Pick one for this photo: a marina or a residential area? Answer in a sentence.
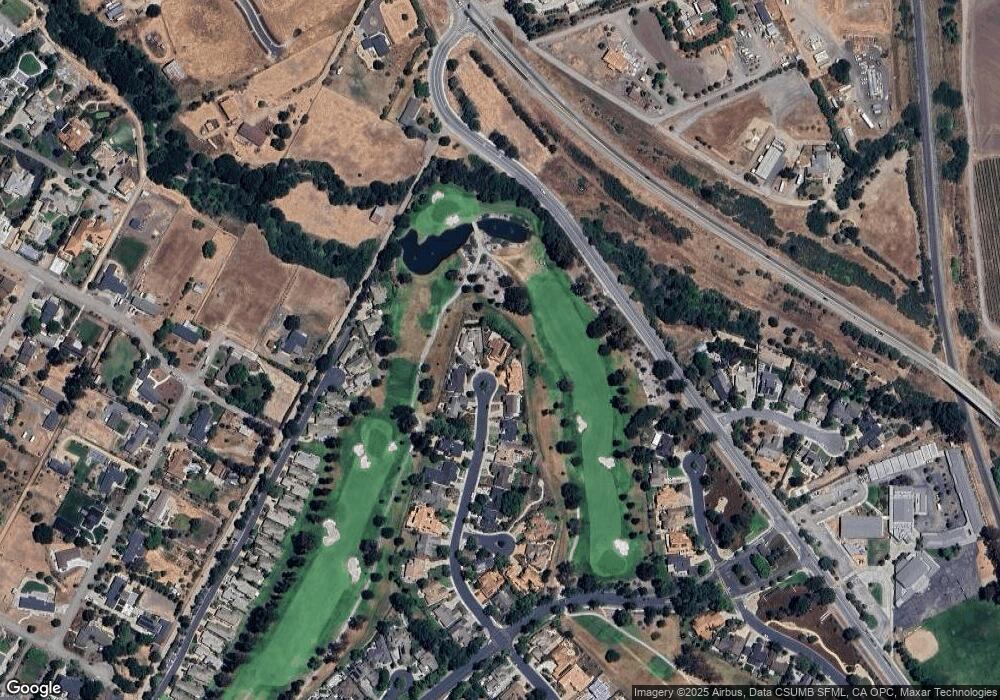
This image shows a residential area.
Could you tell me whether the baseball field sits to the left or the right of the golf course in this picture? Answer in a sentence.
It is on the right side of the golf course that the baseball field is positioned.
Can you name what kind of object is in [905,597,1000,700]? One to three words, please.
baseball field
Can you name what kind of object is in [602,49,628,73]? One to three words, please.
house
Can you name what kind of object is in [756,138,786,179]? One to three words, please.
barn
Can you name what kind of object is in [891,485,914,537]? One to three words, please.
building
